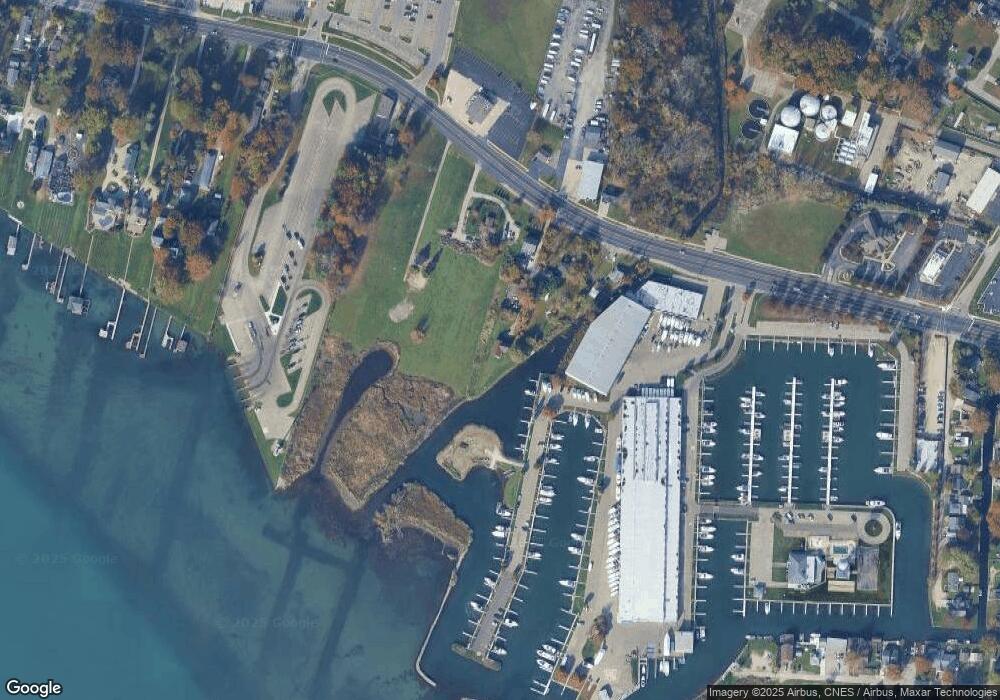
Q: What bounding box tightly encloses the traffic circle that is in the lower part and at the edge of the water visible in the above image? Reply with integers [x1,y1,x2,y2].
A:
[862,511,891,544]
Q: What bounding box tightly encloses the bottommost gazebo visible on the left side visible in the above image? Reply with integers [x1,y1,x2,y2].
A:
[269,440,283,455]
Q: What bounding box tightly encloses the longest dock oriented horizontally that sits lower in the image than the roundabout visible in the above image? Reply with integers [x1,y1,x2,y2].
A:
[743,599,892,616]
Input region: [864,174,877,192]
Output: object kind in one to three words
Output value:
vehicle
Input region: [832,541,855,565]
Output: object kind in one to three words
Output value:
swimming pool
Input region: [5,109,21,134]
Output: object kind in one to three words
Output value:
house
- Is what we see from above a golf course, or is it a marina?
marina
